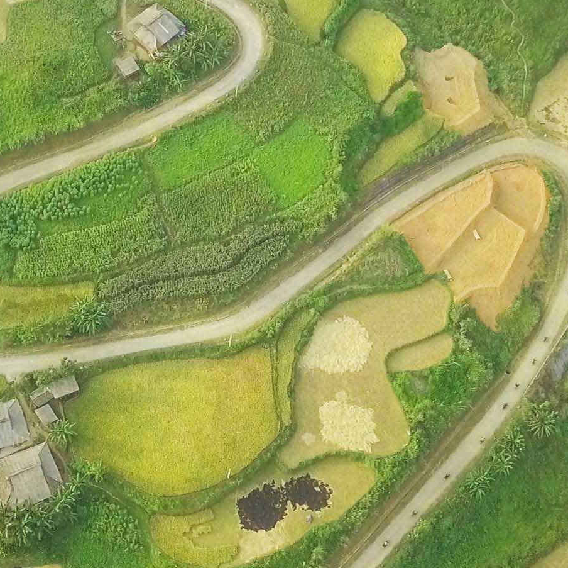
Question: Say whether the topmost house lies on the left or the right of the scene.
left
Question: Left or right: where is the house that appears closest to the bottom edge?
left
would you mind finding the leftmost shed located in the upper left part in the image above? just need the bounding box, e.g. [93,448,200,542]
[114,55,139,79]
